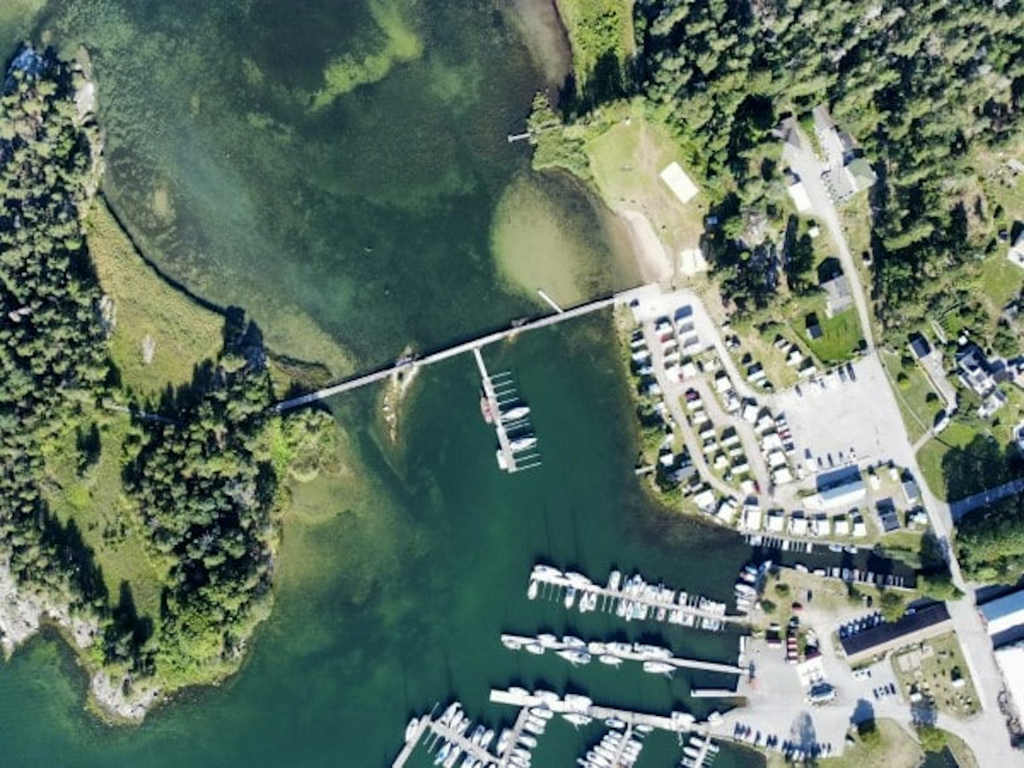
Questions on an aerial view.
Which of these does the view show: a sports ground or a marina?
marina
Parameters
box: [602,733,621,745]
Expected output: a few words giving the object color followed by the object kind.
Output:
white boat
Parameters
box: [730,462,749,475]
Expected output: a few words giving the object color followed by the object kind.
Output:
white vehicle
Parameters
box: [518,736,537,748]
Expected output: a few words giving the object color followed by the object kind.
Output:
white boat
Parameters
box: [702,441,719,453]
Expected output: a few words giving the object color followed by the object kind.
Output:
white vehicle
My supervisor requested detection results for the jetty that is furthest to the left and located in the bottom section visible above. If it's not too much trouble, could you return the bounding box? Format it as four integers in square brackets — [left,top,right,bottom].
[392,714,430,768]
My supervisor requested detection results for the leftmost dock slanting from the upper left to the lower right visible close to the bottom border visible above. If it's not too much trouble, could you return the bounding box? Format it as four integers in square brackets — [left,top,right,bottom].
[428,718,506,766]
